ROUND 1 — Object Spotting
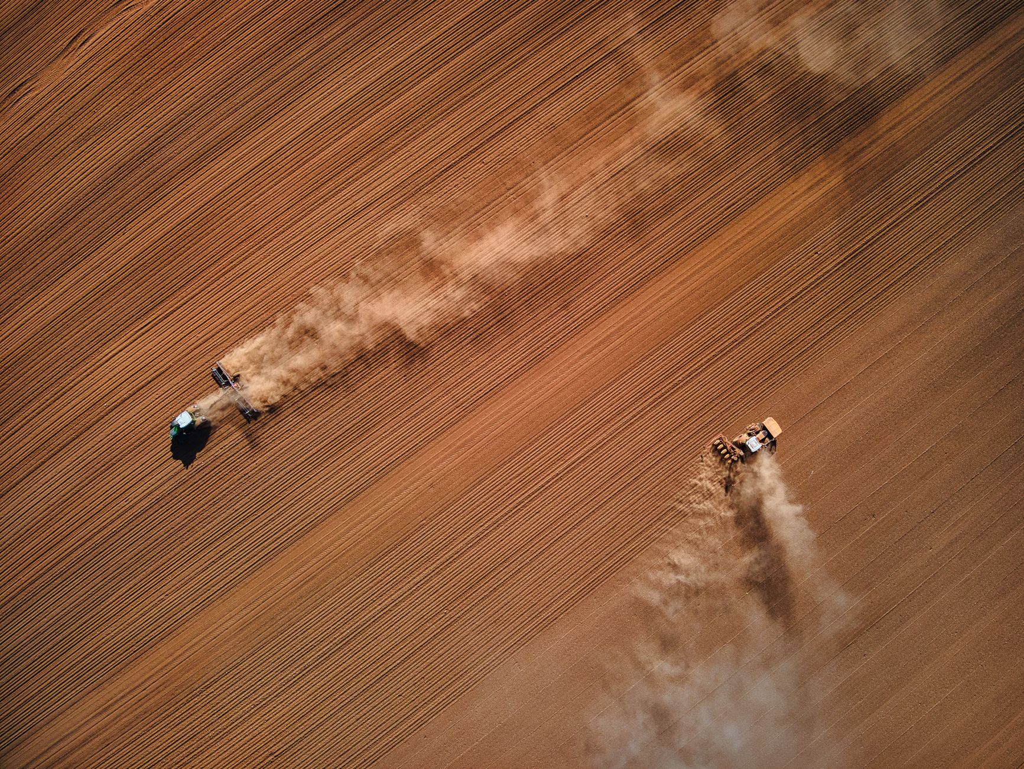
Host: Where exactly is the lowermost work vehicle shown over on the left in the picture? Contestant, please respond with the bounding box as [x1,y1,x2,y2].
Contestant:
[169,404,209,440]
